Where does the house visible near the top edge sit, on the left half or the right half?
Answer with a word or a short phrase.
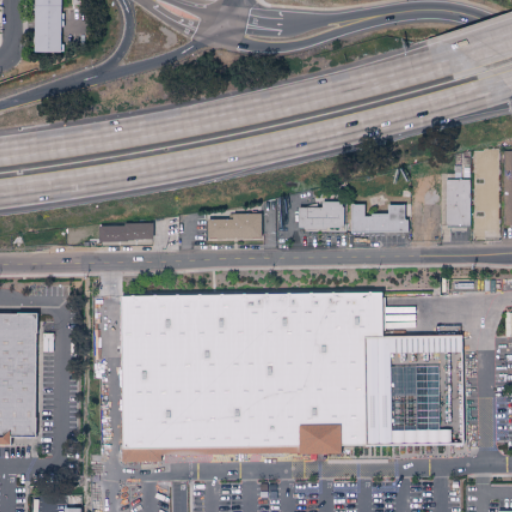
left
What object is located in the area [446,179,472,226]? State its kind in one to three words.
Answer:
building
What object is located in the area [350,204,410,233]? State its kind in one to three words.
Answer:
building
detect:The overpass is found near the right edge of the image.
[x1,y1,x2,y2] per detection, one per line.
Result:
[426,10,512,113]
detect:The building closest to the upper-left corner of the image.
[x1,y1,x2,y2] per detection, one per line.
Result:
[34,0,64,52]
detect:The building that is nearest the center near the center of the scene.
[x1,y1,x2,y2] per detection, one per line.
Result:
[208,214,262,241]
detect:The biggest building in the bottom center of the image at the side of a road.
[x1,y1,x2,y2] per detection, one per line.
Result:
[122,292,384,462]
